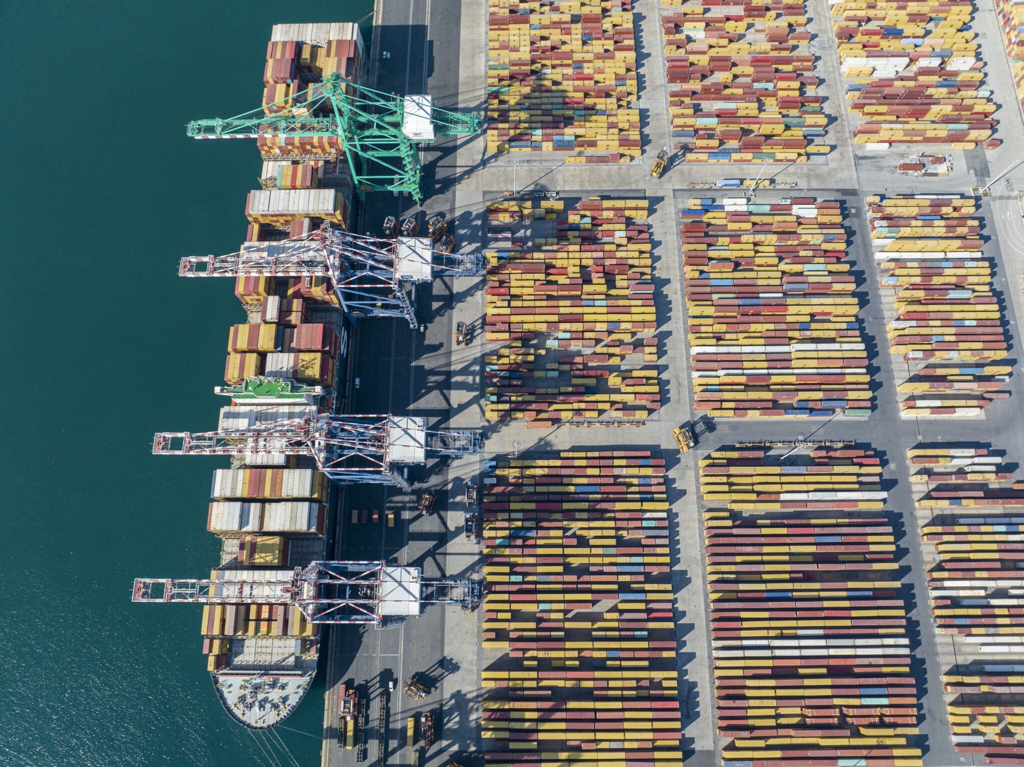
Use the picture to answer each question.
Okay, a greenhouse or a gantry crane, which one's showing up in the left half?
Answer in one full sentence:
You can see a gantry crane in the left half.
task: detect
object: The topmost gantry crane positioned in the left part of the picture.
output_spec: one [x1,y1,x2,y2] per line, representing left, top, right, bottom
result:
[184,65,484,203]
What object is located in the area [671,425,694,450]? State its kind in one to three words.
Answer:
work vehicle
